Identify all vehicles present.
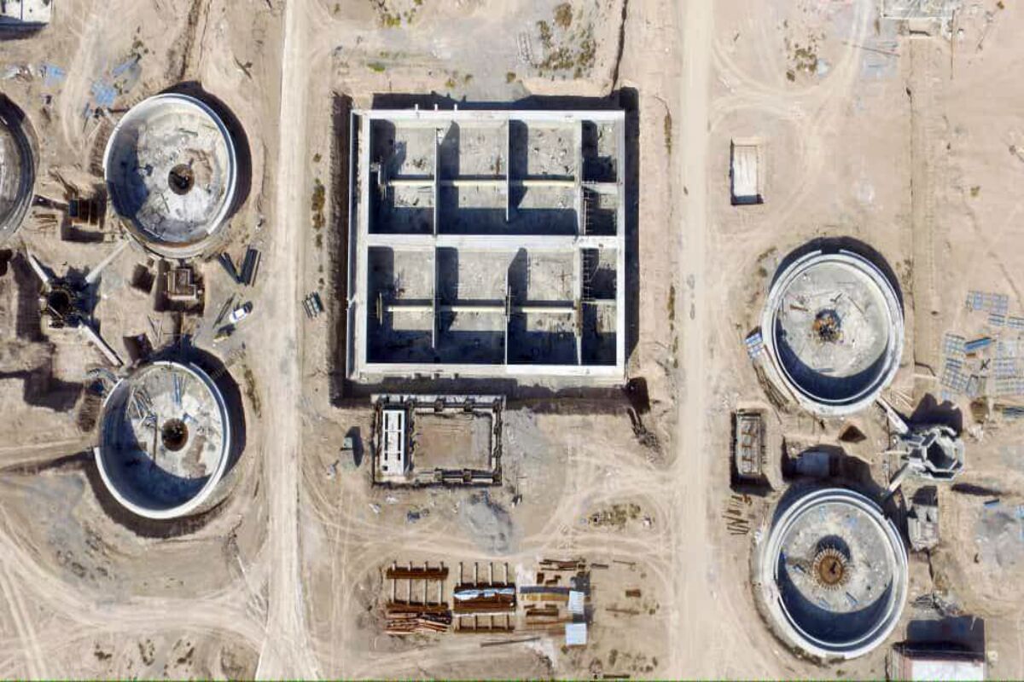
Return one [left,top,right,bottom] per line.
[231,305,251,323]
[212,330,230,343]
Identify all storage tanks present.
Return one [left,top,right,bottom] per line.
[758,484,907,654]
[95,360,241,519]
[0,98,42,252]
[755,243,904,412]
[104,92,248,254]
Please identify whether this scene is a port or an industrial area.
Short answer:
industrial area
